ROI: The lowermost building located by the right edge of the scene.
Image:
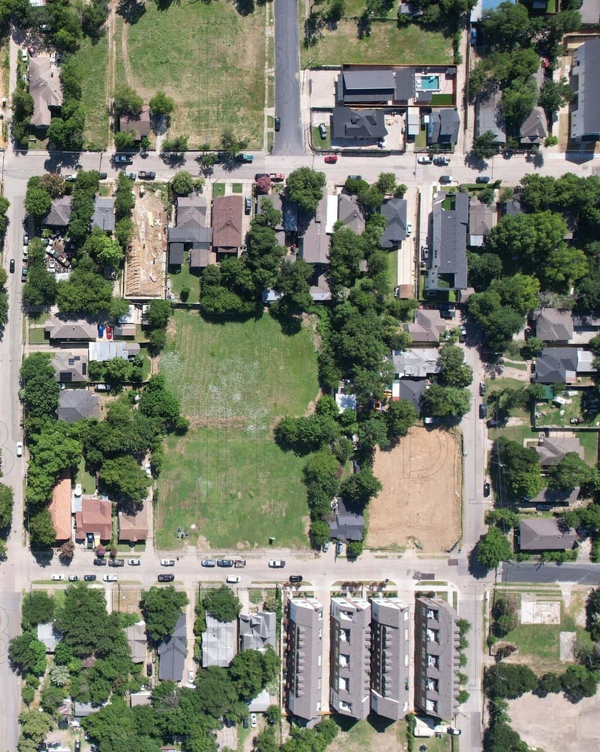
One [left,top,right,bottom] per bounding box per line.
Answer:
[514,518,576,550]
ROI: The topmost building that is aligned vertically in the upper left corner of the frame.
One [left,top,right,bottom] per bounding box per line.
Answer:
[29,56,61,127]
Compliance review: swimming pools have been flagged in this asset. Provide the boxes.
[418,72,442,91]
